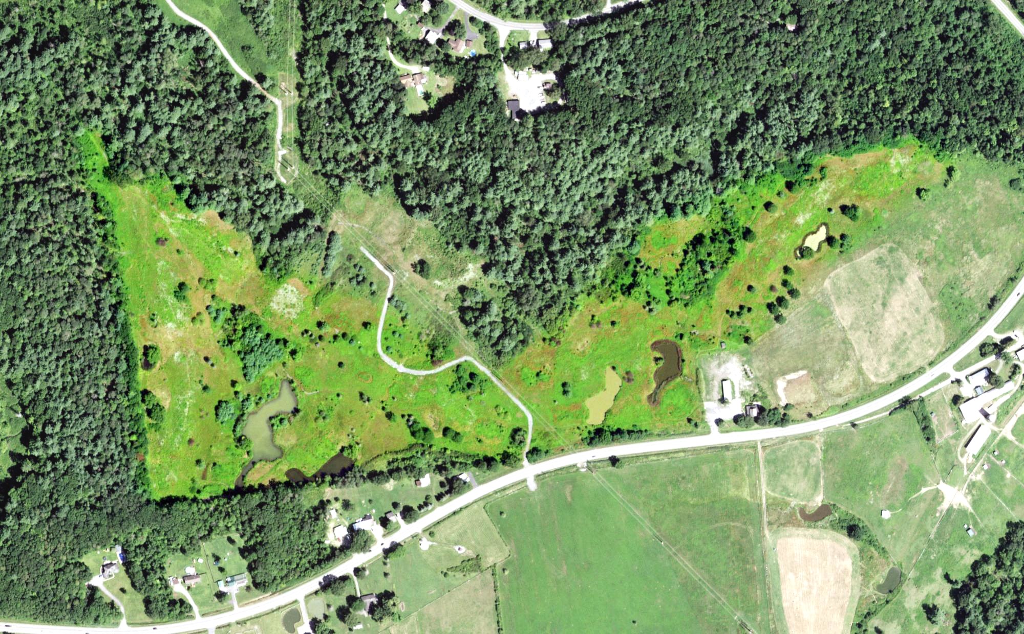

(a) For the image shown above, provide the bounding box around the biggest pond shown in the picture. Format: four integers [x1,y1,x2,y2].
[245,381,297,462]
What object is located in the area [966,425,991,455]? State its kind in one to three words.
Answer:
barn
